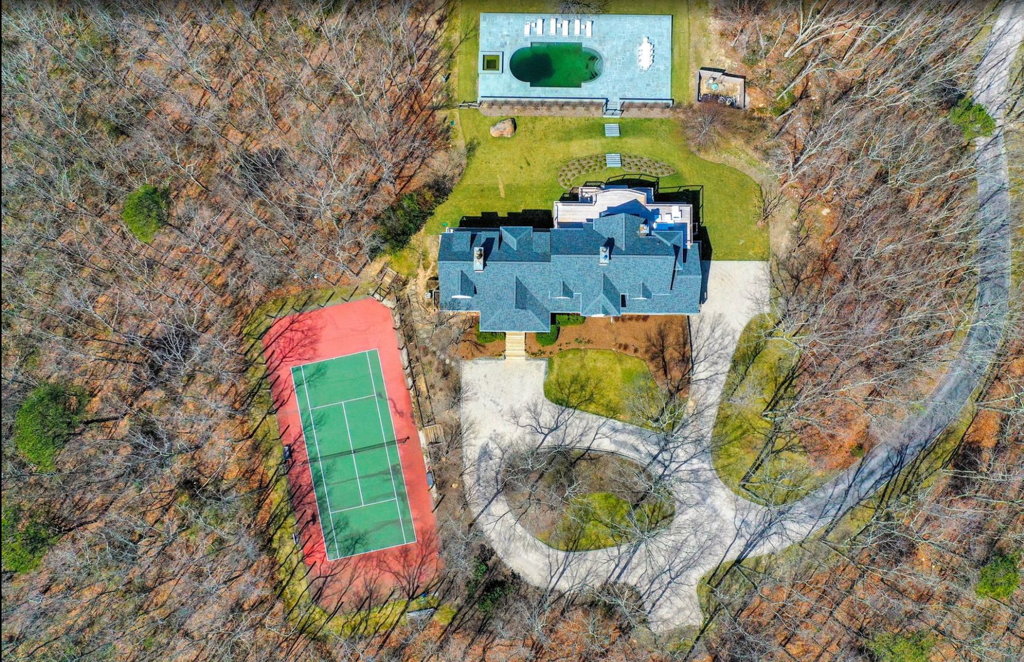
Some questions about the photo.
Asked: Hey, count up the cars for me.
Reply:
zero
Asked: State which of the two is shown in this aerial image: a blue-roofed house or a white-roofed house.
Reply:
blue-roofed house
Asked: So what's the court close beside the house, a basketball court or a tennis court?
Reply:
tennis court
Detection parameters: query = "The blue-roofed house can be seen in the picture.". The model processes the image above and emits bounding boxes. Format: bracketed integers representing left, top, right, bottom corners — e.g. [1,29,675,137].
[438,215,701,332]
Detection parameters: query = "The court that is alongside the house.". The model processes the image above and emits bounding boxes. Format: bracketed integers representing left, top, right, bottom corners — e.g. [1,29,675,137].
[262,297,444,614]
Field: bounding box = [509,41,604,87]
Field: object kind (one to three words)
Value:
swimming pool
